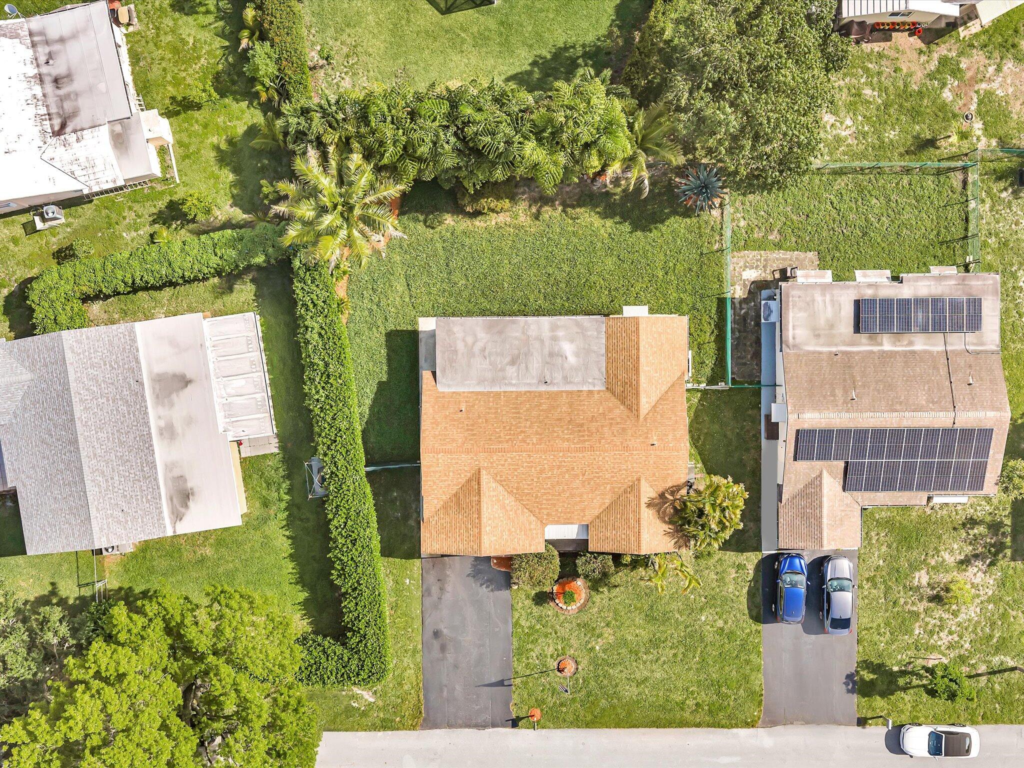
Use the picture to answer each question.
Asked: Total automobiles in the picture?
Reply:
3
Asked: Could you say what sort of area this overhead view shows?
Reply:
residential area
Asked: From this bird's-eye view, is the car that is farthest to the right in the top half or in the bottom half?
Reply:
bottom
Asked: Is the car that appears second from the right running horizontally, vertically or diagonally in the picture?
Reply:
vertically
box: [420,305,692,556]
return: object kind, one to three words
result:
house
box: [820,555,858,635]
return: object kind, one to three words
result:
car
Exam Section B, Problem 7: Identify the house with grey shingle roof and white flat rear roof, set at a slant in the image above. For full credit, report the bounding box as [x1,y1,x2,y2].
[0,312,280,559]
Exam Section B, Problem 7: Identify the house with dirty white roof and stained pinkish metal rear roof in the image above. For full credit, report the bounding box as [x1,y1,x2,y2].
[0,0,166,216]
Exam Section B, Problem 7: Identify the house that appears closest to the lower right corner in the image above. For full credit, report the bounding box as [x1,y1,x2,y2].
[761,266,1011,551]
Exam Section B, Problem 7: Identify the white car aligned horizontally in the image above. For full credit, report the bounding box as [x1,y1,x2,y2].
[897,723,980,763]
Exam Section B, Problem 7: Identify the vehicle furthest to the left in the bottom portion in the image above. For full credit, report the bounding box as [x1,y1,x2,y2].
[774,551,812,623]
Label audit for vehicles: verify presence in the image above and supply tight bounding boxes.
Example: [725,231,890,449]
[774,551,812,623]
[820,555,858,635]
[897,723,980,763]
